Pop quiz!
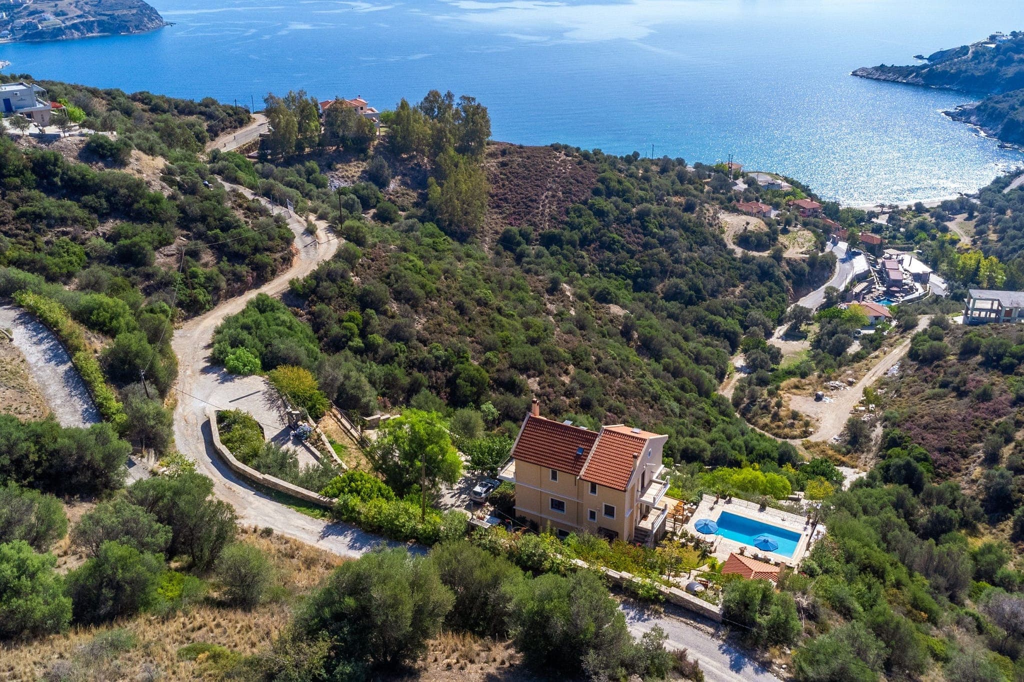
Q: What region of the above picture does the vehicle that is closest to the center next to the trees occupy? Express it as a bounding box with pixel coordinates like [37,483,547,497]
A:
[468,475,501,502]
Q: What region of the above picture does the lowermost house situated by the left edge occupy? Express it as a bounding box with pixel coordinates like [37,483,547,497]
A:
[0,87,62,126]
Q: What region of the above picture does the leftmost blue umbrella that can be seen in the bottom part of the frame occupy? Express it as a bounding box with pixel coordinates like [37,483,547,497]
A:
[694,517,718,536]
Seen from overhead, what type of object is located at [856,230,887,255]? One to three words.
house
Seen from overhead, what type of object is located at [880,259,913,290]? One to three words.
building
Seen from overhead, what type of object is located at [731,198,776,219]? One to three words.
house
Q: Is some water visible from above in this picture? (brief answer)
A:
Yes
